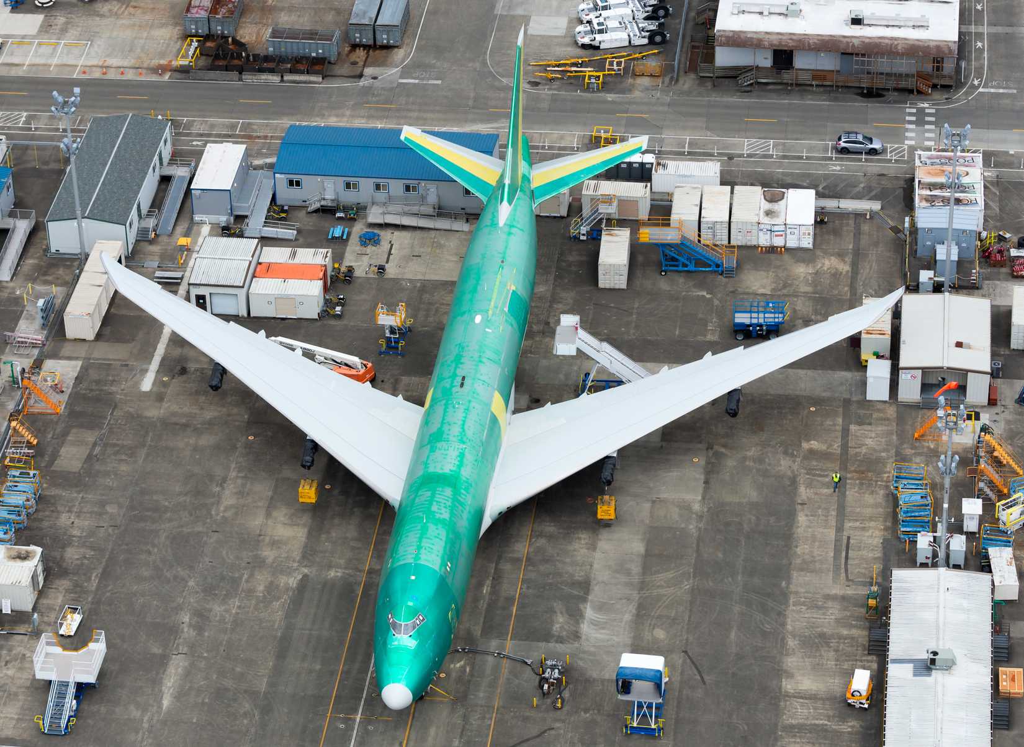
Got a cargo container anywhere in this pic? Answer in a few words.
Yes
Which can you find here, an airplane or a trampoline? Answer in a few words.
airplane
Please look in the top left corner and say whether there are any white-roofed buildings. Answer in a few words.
Yes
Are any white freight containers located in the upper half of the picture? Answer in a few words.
Yes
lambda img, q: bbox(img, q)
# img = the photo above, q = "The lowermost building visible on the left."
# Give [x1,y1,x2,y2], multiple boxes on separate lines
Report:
[185,234,262,314]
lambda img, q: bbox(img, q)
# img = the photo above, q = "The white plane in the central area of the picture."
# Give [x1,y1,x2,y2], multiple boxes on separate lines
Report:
[103,25,901,712]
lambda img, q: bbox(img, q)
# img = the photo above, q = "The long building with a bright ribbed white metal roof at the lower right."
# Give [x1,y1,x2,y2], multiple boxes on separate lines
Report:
[882,565,994,747]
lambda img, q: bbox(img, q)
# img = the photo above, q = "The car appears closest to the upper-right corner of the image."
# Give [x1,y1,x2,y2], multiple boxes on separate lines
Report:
[836,130,884,154]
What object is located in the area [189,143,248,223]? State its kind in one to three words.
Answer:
building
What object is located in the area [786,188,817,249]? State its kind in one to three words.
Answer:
shipping container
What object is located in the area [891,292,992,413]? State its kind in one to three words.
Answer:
building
